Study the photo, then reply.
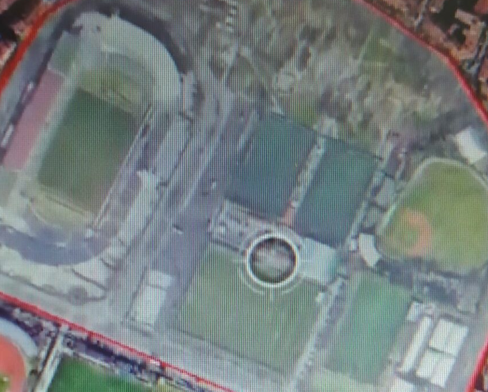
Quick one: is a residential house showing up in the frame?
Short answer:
Yes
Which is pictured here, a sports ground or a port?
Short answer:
sports ground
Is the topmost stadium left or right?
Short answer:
left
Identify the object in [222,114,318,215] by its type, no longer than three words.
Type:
sports field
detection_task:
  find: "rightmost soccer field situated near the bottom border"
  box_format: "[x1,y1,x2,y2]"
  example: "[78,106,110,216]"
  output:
[325,270,410,381]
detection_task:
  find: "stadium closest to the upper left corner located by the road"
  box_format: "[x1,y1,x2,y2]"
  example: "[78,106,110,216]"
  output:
[0,12,184,289]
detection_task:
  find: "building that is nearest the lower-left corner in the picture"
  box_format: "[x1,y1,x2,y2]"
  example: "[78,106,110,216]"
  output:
[133,272,172,328]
